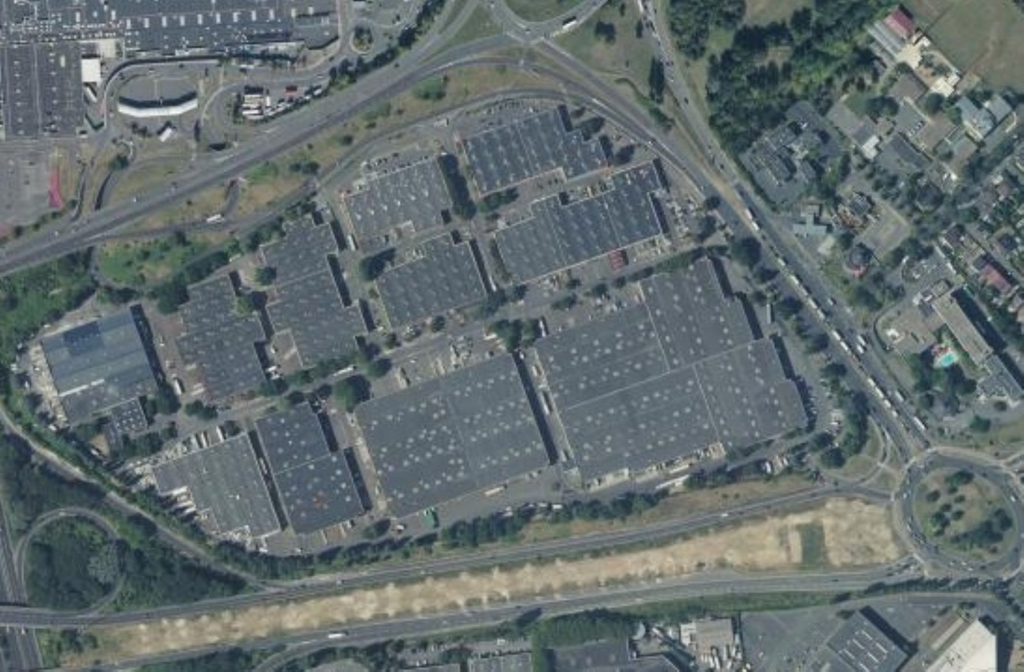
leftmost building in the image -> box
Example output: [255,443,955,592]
[1,41,87,140]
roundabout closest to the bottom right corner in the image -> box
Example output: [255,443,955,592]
[892,441,1024,584]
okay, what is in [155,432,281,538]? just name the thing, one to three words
building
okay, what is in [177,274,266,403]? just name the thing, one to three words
building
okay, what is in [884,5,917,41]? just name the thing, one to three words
barn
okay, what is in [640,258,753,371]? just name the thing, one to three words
warehouse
